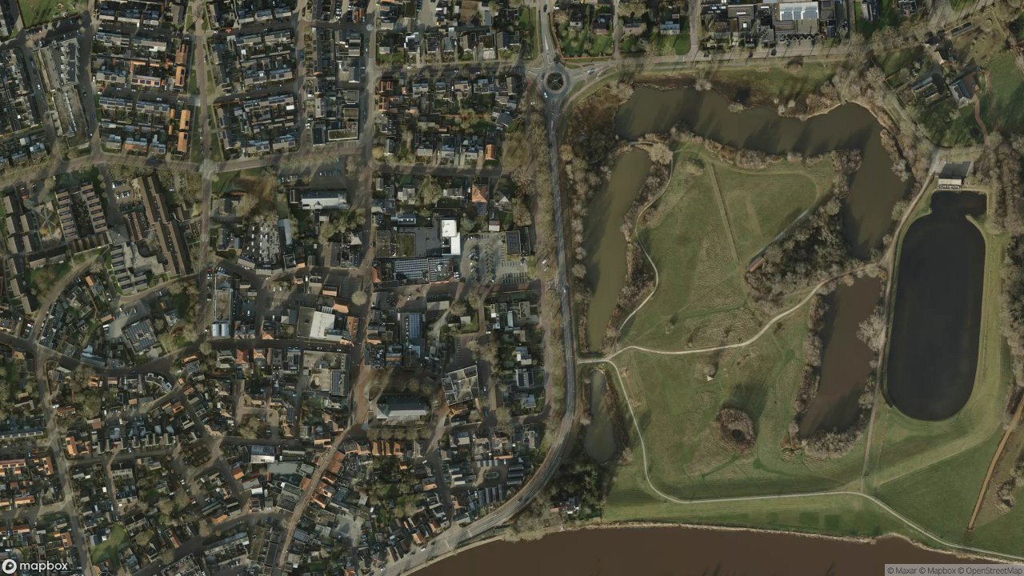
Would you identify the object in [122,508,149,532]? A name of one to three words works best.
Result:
building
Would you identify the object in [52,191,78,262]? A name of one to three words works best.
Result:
building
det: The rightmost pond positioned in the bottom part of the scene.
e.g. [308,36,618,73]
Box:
[801,277,882,437]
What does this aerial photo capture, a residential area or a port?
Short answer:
residential area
